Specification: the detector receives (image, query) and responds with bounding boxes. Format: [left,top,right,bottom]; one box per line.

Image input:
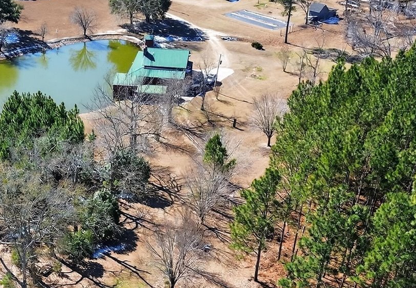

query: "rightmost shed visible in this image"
[310,4,337,22]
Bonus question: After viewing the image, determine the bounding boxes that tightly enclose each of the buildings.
[104,39,196,96]
[310,4,337,22]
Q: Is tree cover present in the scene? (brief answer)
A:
Yes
